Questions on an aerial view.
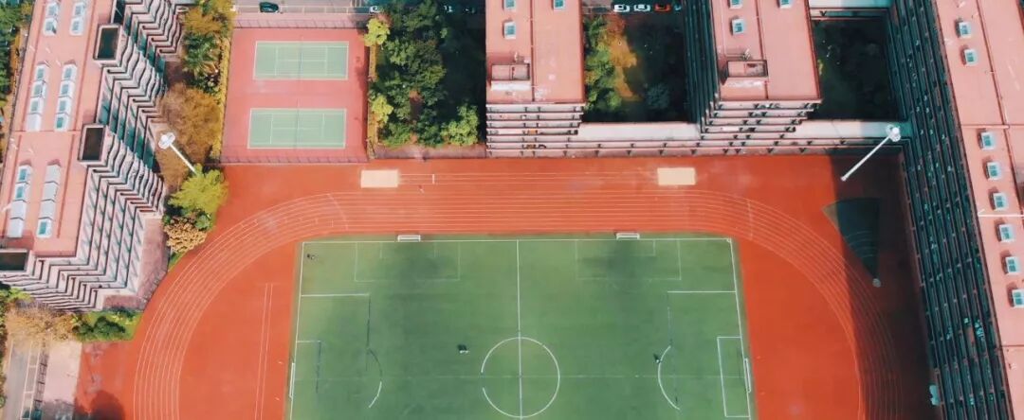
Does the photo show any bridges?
No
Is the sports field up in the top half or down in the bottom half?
bottom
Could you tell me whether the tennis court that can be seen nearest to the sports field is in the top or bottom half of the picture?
top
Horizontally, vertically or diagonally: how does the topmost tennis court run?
horizontally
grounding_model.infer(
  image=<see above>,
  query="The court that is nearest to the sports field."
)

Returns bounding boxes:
[246,104,347,151]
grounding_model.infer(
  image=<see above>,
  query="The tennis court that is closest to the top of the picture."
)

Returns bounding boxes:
[251,41,349,79]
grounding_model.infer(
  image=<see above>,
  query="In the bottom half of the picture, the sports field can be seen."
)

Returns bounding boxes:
[282,233,758,420]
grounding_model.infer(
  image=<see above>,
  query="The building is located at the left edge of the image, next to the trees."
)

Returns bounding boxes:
[0,0,188,315]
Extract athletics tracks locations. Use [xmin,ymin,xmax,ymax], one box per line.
[132,173,901,420]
